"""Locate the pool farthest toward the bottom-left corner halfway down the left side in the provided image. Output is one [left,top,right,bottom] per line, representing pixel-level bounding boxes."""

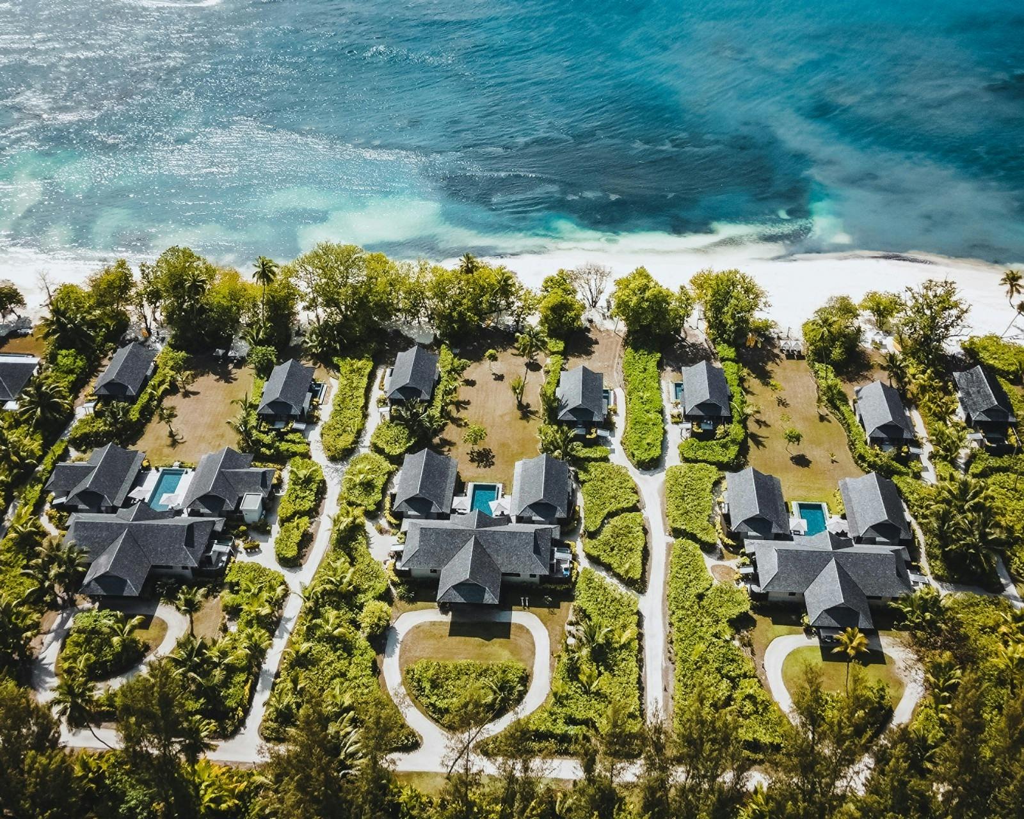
[133,465,193,517]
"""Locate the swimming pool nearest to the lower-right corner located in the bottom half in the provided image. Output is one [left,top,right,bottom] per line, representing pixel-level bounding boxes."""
[790,500,829,543]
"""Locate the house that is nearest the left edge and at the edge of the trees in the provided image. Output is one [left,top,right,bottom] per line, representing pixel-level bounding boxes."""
[0,355,42,414]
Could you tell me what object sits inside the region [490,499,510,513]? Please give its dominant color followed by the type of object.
white umbrella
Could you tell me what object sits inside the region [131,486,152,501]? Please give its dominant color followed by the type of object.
white umbrella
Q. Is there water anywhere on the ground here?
Yes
